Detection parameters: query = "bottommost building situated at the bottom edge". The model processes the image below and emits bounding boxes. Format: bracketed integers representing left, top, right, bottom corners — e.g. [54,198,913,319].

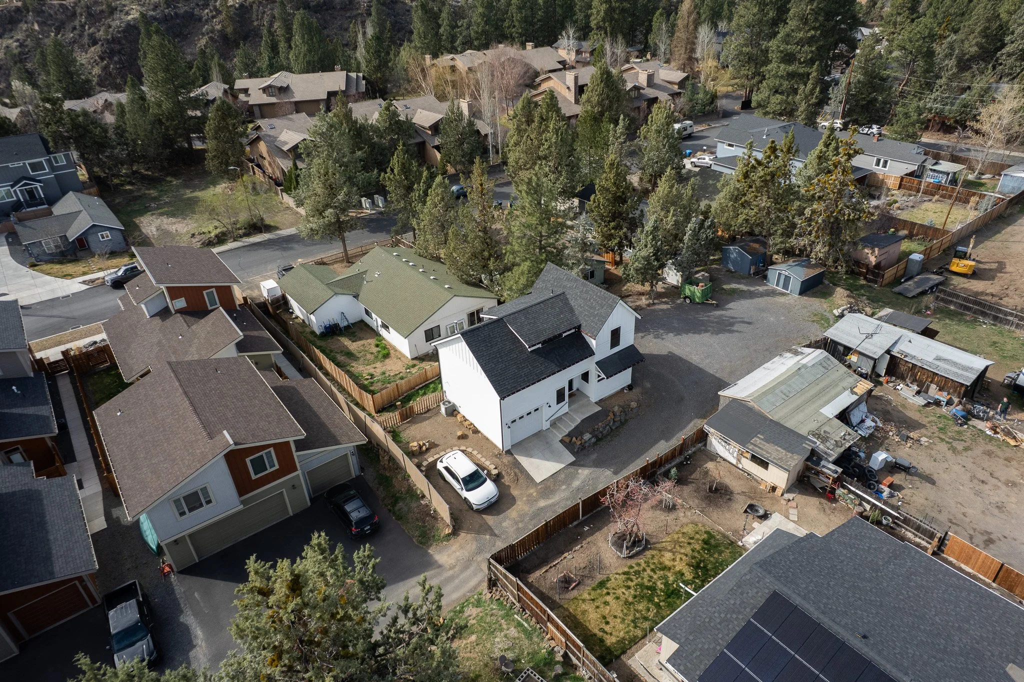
[651,516,1024,682]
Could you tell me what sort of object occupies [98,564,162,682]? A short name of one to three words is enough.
truck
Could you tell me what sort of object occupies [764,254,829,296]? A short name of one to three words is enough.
shed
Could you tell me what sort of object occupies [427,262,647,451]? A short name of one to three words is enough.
house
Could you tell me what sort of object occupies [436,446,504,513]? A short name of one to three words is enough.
car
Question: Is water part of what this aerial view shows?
No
